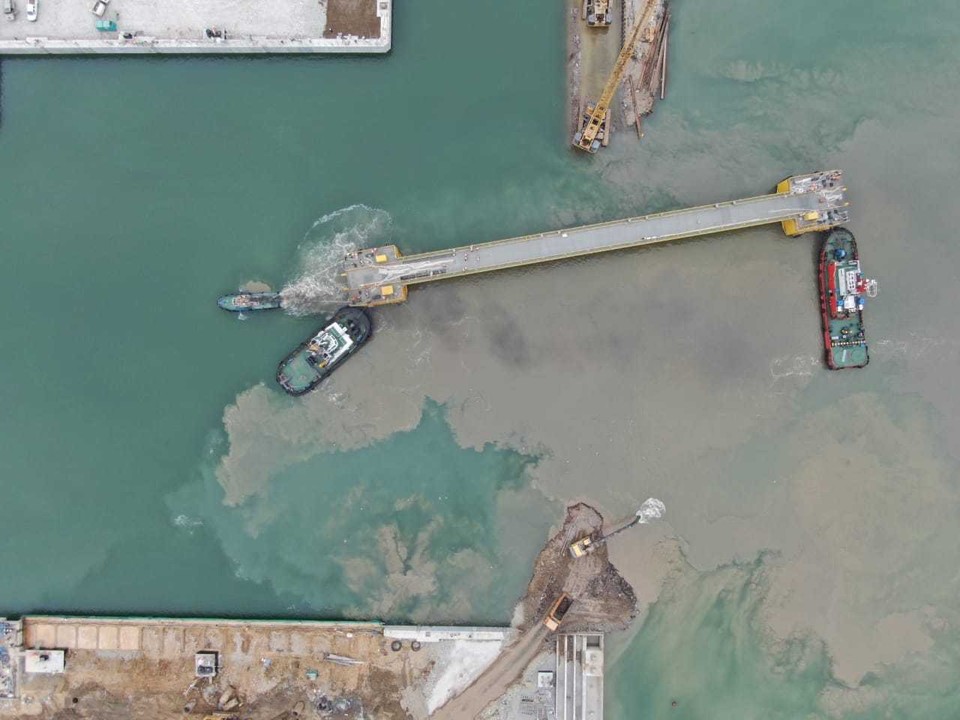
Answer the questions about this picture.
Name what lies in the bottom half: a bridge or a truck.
truck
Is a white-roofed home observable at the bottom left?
Yes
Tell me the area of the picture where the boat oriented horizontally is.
left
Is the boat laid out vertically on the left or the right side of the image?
right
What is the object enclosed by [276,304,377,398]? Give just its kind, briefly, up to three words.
boat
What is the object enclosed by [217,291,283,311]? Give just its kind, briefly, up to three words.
boat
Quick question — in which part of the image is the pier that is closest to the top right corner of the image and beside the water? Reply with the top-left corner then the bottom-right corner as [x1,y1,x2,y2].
[773,170,851,236]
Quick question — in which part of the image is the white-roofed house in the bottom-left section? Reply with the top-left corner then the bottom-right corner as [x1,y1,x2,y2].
[22,644,68,672]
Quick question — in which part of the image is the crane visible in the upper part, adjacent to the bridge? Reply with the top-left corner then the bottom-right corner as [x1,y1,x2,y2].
[575,0,661,150]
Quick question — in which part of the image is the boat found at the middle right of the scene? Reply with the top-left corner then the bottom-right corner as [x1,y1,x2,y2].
[817,226,877,370]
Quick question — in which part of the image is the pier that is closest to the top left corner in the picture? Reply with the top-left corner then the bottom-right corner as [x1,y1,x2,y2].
[0,0,391,54]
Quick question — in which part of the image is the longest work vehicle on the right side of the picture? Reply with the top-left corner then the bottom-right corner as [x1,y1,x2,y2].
[566,511,647,562]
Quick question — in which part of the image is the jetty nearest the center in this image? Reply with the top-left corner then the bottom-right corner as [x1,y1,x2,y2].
[340,247,409,308]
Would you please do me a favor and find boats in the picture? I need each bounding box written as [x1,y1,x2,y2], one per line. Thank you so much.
[817,226,877,370]
[217,291,283,311]
[276,304,377,398]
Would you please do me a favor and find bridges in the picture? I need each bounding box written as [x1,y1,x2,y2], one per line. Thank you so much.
[340,170,851,308]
